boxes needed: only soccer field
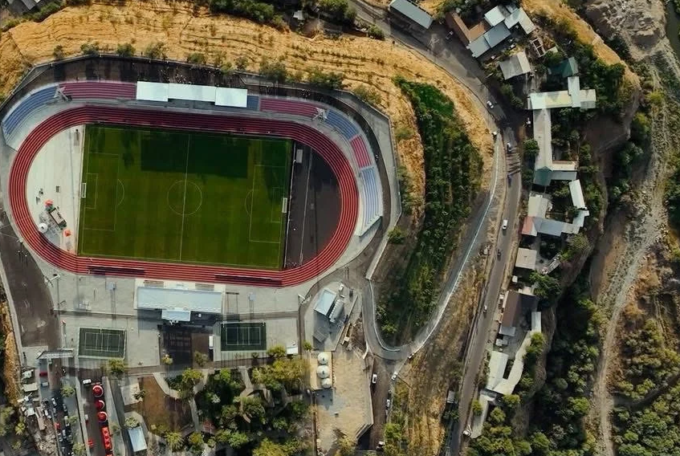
[73,123,295,270]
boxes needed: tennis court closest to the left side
[78,327,127,359]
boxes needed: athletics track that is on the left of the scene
[8,105,360,288]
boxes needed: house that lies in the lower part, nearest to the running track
[313,288,338,316]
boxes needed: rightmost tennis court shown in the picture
[221,323,267,351]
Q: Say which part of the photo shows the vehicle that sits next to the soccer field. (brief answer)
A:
left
